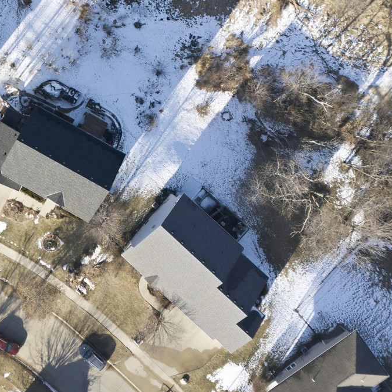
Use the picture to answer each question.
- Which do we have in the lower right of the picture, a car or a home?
home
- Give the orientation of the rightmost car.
at an angle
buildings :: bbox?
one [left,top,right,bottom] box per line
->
[121,193,269,354]
[0,105,126,222]
[262,327,390,392]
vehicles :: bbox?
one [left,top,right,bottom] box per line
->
[0,335,22,359]
[75,343,111,376]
